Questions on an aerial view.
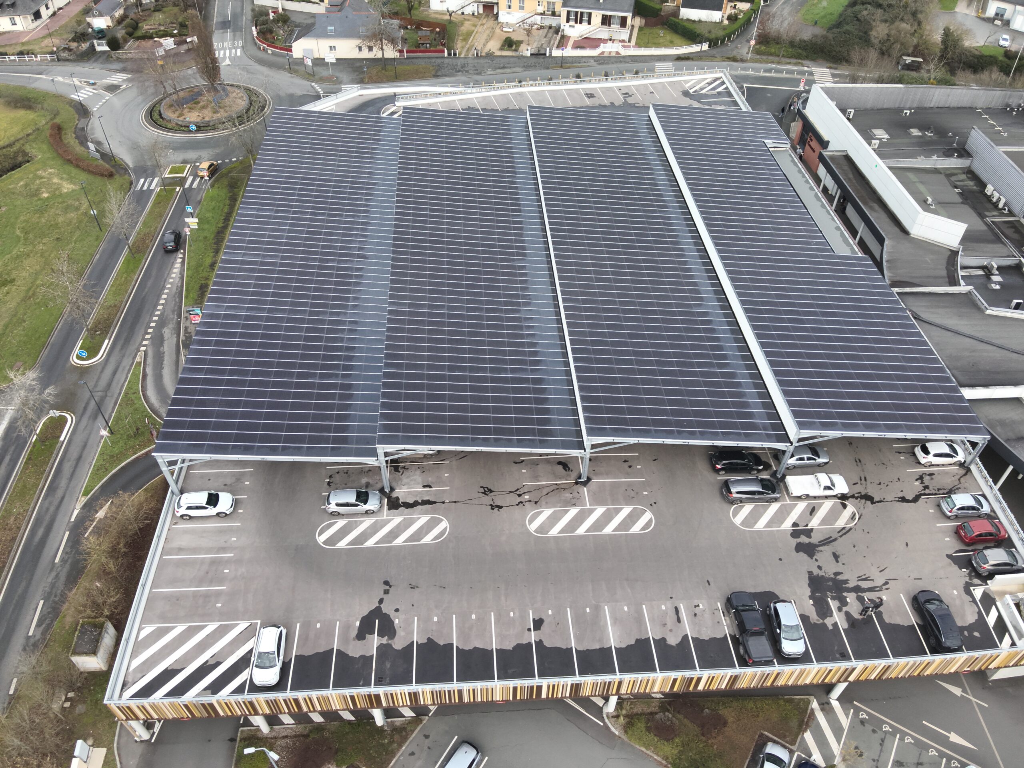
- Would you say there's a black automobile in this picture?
Yes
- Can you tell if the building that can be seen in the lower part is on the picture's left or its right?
left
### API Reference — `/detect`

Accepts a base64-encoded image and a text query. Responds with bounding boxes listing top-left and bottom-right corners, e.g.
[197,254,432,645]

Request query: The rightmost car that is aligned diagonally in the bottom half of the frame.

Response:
[912,591,968,657]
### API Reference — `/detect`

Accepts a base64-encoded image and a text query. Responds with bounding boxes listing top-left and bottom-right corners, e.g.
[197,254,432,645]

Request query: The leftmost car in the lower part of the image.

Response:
[172,488,235,520]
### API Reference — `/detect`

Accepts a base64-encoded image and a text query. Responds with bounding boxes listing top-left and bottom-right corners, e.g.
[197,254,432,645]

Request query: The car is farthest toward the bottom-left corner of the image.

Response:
[250,627,288,689]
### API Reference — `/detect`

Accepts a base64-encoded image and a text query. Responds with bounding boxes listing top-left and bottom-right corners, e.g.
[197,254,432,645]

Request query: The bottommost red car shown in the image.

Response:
[952,517,1011,547]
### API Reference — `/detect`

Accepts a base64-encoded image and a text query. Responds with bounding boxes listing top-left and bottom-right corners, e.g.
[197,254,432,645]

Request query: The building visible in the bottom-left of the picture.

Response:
[66,614,120,670]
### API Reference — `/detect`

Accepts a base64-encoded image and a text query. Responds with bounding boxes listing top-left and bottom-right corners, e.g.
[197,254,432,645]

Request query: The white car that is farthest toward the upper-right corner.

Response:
[996,33,1015,46]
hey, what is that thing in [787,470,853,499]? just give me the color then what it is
white truck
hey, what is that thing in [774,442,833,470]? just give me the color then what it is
gray car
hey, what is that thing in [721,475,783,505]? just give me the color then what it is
gray car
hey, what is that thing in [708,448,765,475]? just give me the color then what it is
black car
